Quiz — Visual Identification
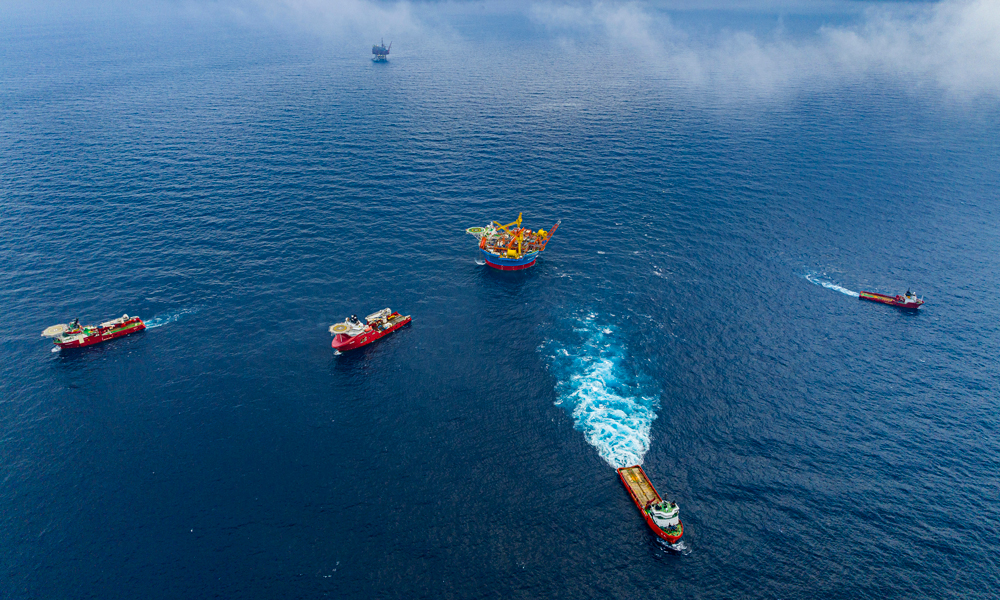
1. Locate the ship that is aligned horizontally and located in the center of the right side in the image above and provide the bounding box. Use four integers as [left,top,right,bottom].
[859,285,924,309]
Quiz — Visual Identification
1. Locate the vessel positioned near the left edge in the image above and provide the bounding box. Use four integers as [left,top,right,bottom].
[41,315,145,348]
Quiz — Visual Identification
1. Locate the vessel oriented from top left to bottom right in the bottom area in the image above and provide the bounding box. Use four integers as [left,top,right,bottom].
[618,466,680,541]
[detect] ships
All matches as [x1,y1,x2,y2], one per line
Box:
[859,285,924,309]
[41,315,145,348]
[330,308,410,351]
[618,466,680,541]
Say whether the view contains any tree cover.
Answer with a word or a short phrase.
No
